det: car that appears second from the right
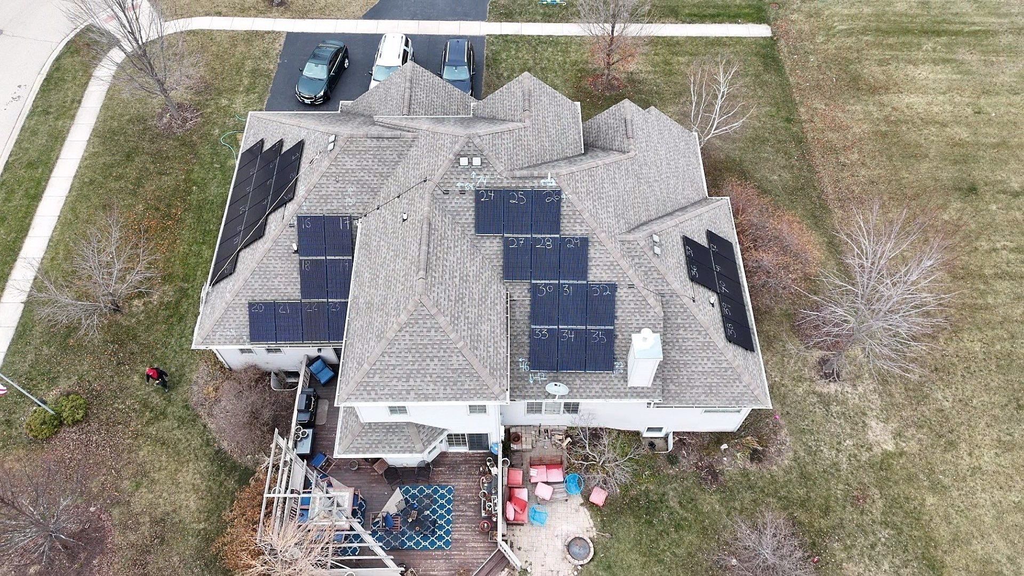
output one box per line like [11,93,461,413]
[366,26,412,85]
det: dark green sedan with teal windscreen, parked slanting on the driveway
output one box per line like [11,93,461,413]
[293,35,349,106]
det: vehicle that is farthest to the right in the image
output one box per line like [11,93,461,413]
[436,32,476,91]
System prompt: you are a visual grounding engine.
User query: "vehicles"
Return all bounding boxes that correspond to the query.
[436,32,476,91]
[366,26,412,85]
[293,35,349,106]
